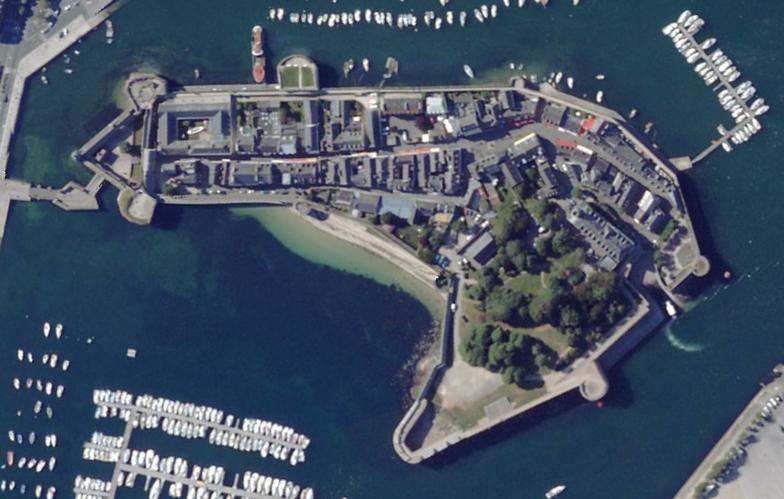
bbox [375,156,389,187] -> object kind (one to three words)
house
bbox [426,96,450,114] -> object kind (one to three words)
building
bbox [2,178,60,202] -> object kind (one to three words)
bridge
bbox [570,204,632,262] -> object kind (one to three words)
house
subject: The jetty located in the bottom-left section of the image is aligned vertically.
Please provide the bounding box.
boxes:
[109,413,137,499]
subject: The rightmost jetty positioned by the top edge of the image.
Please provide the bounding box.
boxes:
[678,22,755,119]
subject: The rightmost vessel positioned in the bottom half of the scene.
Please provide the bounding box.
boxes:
[665,300,678,318]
